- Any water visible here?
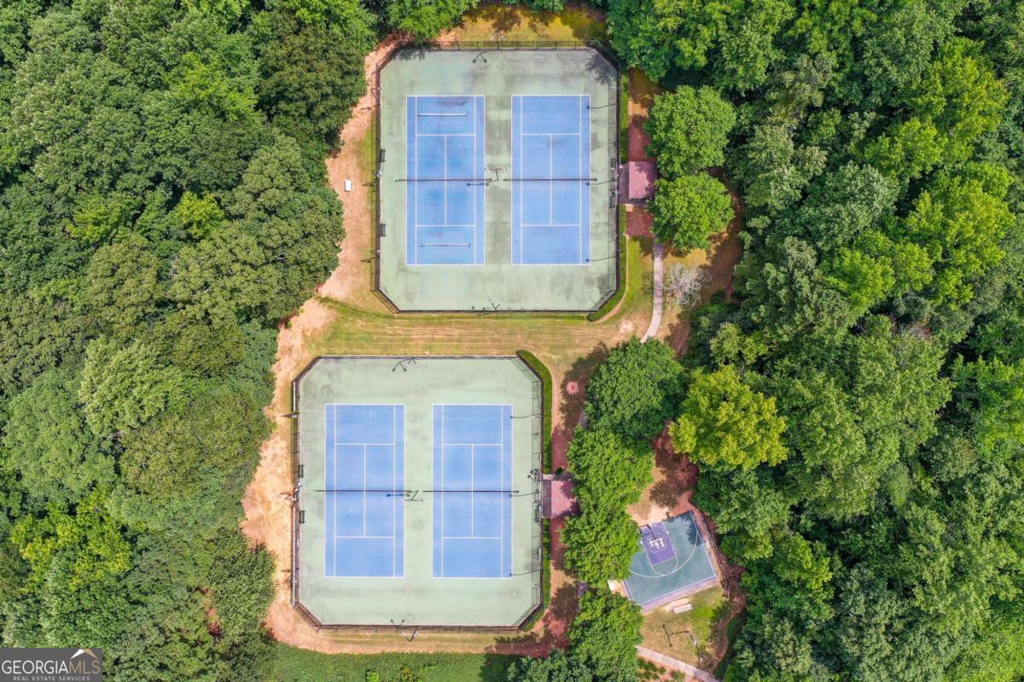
No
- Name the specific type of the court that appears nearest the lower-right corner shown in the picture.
basketball court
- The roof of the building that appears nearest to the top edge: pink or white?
pink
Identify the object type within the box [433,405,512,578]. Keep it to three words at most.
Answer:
tennis court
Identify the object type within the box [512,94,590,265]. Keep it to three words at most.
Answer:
tennis court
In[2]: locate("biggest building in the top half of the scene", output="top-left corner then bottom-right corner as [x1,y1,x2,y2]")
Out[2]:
[627,161,658,200]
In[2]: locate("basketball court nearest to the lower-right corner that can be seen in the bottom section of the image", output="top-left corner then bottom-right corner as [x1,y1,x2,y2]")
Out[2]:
[609,507,721,612]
